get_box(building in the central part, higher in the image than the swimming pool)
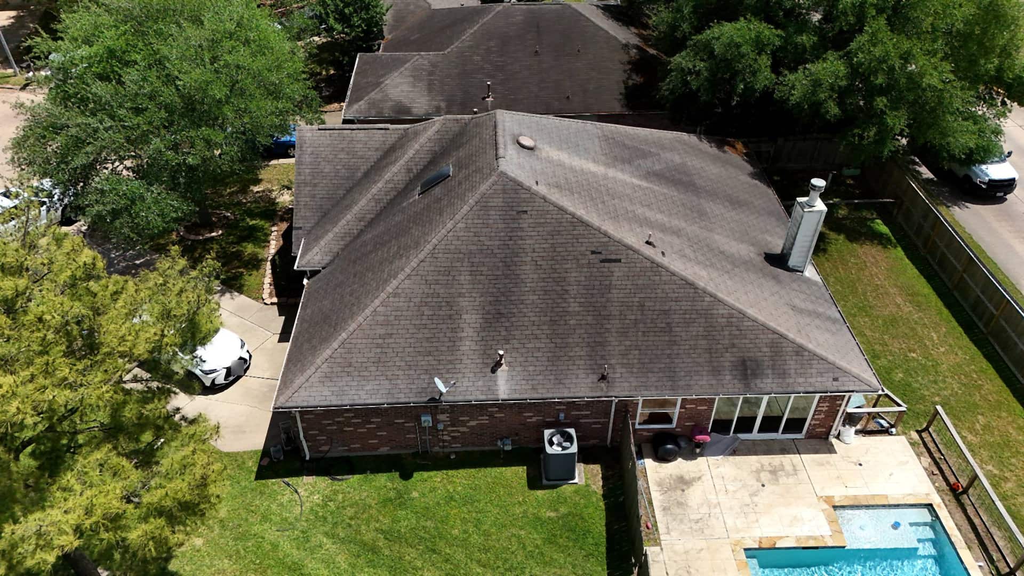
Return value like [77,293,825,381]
[269,106,885,464]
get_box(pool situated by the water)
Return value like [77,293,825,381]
[745,503,971,576]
